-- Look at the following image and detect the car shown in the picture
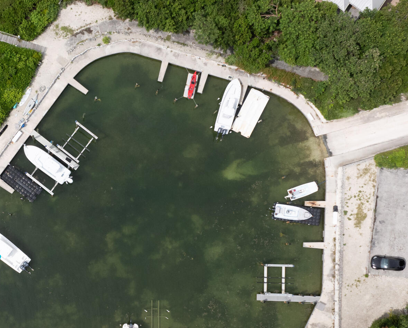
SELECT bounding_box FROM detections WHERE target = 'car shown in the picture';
[369,254,406,272]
